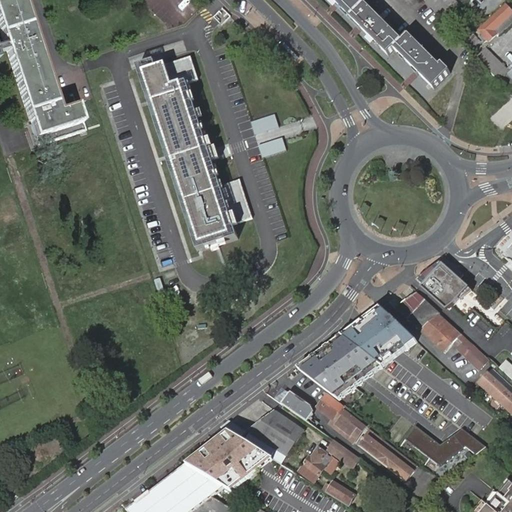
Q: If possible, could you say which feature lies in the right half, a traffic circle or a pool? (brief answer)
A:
traffic circle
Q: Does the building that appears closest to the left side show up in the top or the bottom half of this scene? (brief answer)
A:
top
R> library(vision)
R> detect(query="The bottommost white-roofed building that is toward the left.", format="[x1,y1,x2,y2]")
[120,461,234,512]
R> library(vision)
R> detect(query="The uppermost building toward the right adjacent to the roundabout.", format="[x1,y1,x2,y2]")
[332,0,450,93]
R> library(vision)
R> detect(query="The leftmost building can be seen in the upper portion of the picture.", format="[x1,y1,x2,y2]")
[0,0,92,148]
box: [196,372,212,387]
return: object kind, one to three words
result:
vehicle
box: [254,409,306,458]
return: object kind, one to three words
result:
barn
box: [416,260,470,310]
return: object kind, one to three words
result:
building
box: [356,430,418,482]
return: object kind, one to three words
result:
house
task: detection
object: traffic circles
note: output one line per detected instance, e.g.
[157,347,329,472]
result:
[330,125,468,266]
